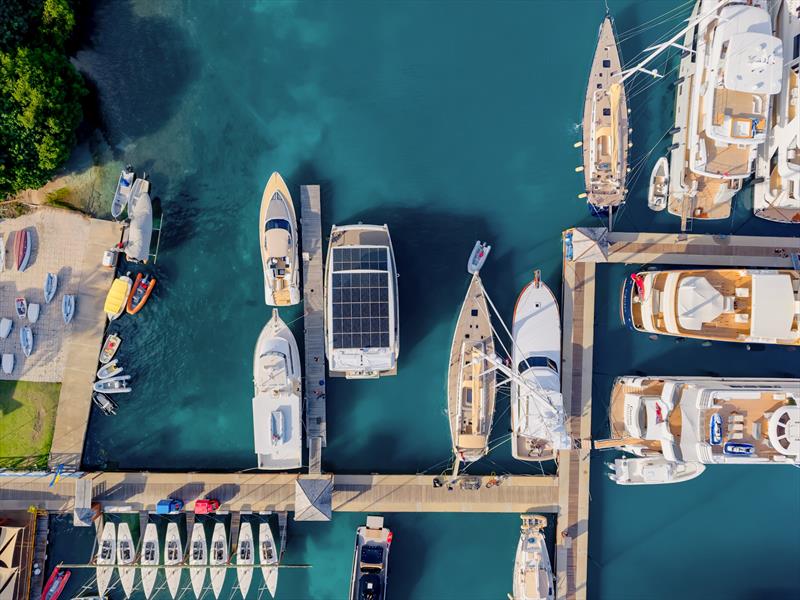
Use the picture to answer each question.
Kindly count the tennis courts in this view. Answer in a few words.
0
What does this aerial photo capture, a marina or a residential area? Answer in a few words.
marina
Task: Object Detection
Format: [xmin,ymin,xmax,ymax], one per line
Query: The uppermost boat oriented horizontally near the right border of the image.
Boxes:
[593,266,800,352]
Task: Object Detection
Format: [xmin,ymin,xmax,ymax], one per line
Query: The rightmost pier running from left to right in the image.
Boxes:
[562,232,800,269]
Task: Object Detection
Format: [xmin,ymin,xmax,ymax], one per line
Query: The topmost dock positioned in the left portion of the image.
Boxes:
[302,185,327,446]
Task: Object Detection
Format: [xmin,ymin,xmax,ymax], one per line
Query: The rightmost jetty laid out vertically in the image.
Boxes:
[555,263,595,600]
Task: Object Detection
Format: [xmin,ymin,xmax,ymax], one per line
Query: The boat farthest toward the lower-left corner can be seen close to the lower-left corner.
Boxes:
[46,566,70,600]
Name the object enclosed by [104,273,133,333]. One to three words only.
boat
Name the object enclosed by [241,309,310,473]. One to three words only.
boat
